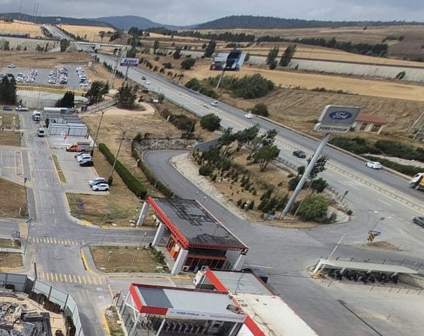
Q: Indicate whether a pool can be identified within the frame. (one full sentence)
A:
No, I can see no pool in this picture.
